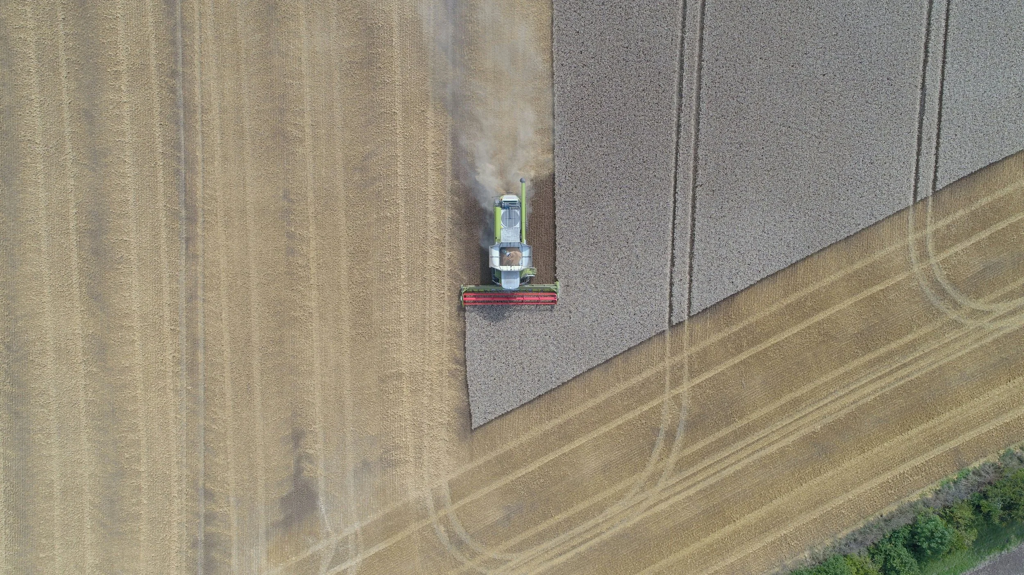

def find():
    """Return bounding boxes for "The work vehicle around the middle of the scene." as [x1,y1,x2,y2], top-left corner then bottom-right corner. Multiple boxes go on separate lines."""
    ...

[461,177,559,310]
